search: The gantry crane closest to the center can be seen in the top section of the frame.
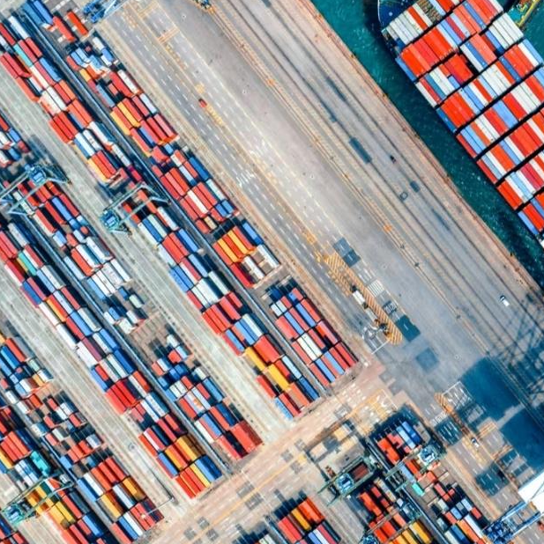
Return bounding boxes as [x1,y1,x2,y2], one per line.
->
[90,182,177,244]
